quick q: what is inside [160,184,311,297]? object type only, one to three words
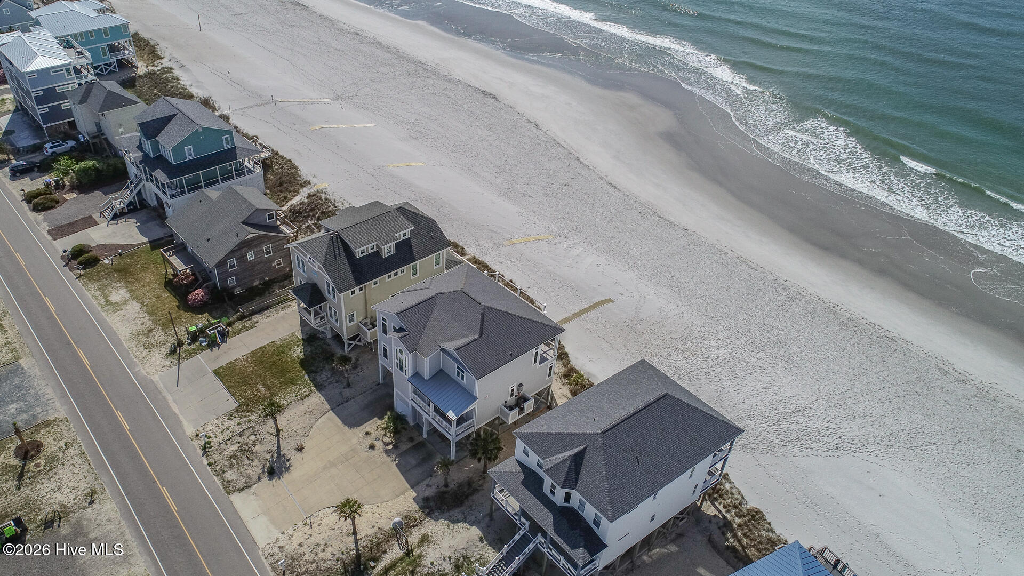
house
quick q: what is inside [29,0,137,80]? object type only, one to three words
house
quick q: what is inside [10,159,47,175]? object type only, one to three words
car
